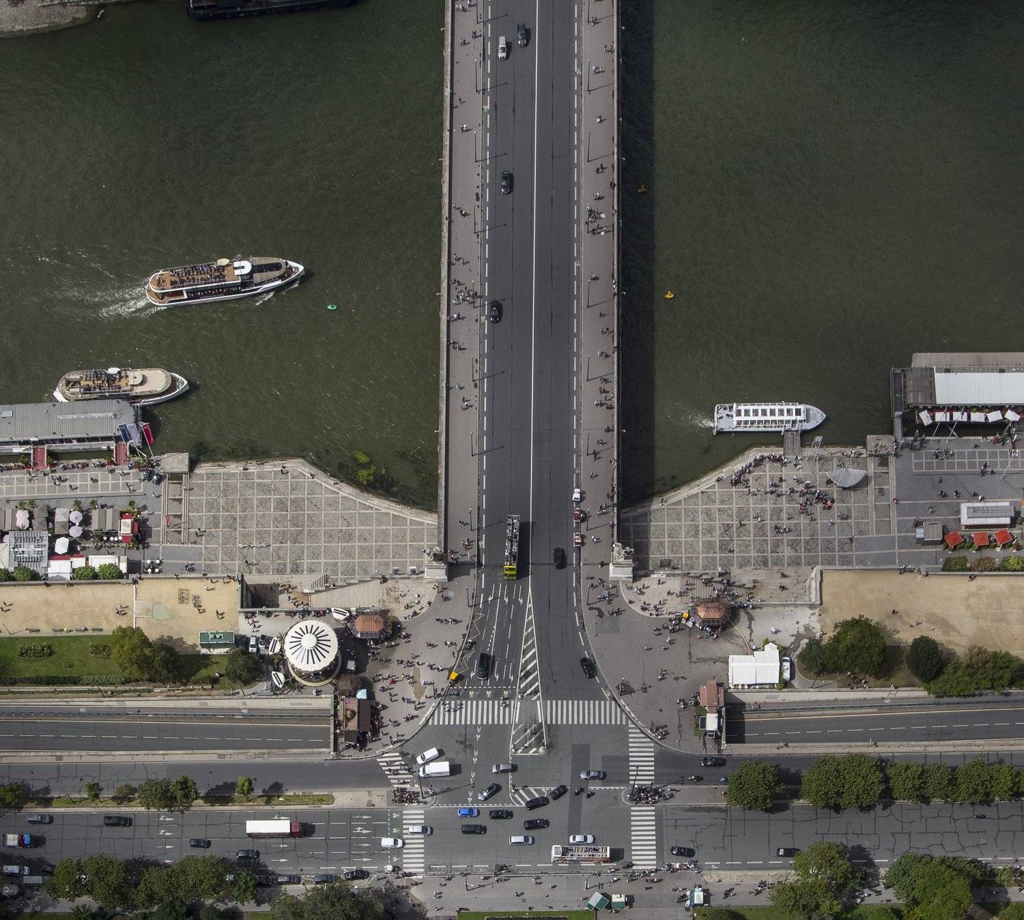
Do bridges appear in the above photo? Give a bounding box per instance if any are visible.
[438,0,621,700]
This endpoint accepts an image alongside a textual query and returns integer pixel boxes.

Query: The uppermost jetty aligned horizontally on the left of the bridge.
[0,398,141,456]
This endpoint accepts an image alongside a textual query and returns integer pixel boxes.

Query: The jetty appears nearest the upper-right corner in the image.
[890,353,1024,441]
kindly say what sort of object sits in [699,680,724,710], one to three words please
shed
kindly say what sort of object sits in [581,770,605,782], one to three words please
vehicle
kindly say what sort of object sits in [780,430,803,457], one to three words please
pier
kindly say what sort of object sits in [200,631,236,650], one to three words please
shed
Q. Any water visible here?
Yes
